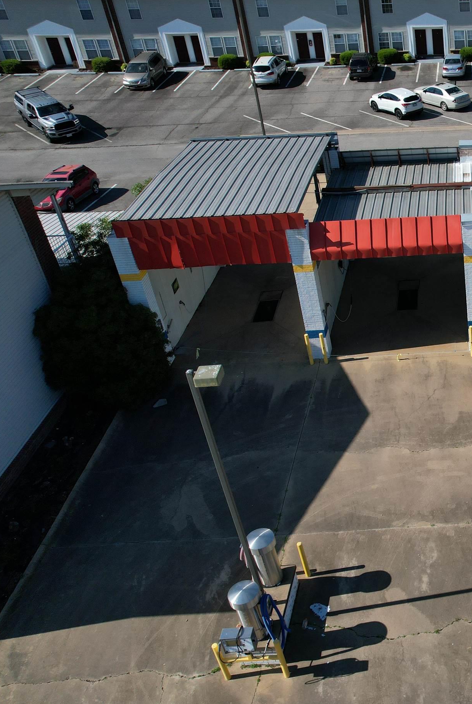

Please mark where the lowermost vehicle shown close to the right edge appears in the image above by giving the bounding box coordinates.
[416,79,472,111]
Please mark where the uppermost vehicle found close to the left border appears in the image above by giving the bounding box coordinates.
[16,81,94,141]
